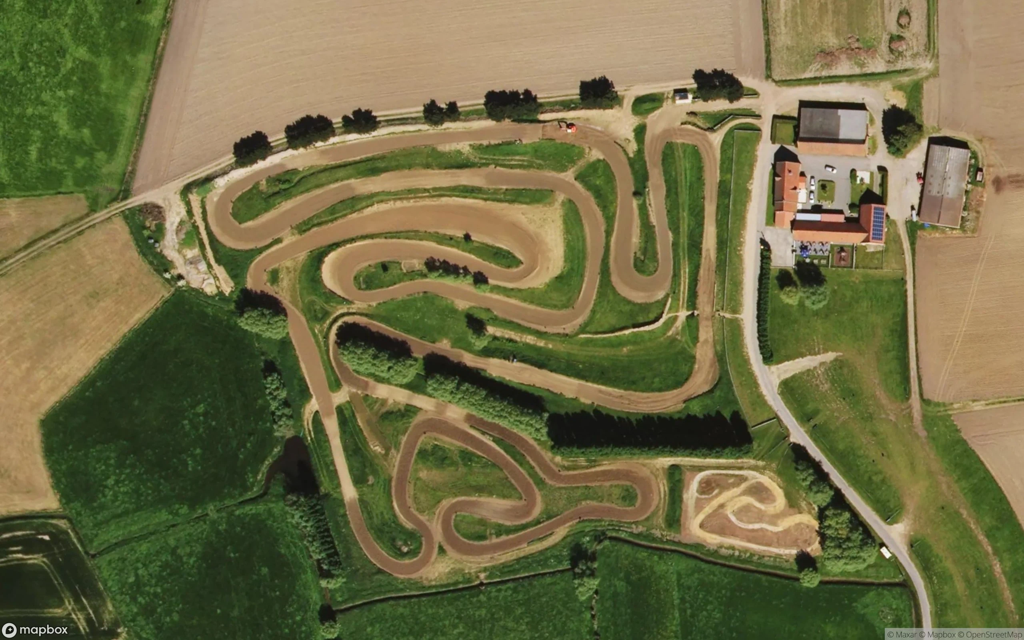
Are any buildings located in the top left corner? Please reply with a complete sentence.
No, in the top left corner there is no building.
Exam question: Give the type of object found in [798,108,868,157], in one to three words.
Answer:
barn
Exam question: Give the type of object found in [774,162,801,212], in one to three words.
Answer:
house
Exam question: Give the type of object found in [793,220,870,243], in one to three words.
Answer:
barn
